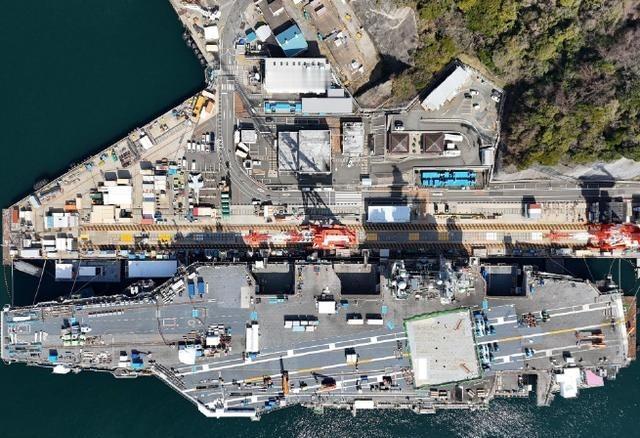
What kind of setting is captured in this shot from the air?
port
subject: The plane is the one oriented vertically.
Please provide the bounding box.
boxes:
[188,172,203,206]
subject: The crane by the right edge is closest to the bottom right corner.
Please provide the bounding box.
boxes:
[528,227,640,250]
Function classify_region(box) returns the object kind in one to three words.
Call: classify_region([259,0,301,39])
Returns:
building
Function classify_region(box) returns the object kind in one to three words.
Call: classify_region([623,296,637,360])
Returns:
ship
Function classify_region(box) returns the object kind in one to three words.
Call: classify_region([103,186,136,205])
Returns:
shed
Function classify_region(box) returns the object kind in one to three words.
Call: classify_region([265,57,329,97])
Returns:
building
